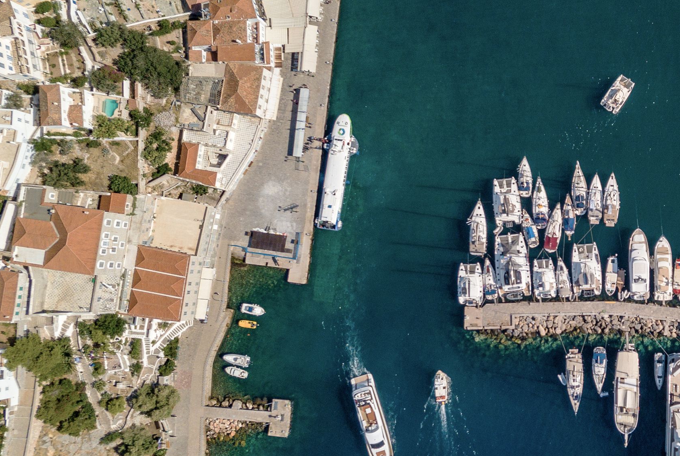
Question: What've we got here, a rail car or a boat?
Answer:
boat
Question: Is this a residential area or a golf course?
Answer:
residential area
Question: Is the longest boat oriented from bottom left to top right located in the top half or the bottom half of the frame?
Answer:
top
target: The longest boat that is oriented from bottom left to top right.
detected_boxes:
[603,75,635,113]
